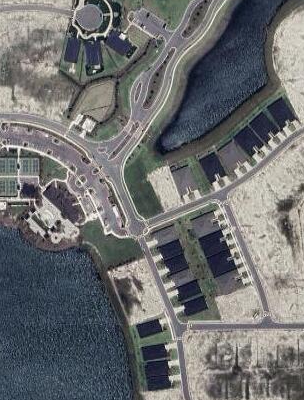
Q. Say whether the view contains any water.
Yes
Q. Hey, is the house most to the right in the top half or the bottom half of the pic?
top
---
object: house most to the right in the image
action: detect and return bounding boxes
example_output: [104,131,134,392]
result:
[268,98,297,129]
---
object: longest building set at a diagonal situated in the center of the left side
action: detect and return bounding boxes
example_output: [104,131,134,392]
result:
[43,180,83,220]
